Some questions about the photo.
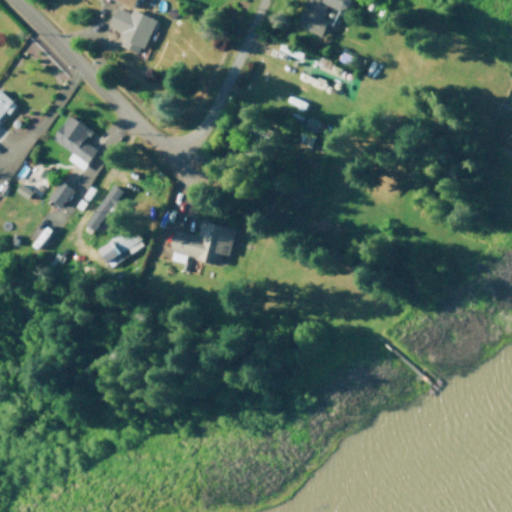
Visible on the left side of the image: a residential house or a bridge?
residential house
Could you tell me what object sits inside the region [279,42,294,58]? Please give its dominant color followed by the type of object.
white vehicle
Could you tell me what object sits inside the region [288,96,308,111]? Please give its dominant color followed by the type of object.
white camper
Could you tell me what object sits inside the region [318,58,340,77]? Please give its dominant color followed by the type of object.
white vehicle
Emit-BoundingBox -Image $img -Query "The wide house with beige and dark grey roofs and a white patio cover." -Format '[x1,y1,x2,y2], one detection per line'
[170,223,238,266]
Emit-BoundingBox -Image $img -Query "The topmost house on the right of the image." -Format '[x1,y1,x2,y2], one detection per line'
[306,0,350,39]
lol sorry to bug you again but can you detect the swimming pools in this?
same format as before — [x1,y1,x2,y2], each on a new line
[18,164,30,179]
[158,0,168,13]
